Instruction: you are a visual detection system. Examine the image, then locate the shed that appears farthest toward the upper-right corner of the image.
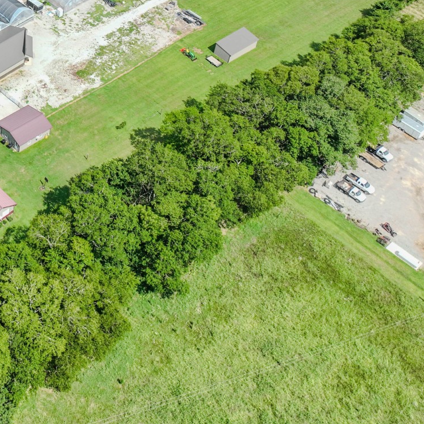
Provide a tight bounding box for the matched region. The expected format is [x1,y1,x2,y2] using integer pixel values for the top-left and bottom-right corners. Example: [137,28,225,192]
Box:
[213,25,259,63]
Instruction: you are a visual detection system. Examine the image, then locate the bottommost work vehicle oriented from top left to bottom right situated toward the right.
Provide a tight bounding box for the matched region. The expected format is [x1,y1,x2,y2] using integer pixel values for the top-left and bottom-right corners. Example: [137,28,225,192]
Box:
[381,220,400,239]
